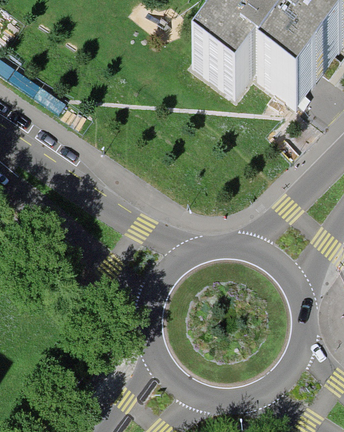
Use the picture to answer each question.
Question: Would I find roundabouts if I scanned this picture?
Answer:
Yes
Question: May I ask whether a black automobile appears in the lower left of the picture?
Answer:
No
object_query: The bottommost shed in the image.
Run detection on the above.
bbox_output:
[35,88,66,116]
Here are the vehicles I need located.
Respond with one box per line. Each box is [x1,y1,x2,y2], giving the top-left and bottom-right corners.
[298,298,312,322]
[57,144,80,164]
[310,342,328,364]
[0,100,10,114]
[35,128,58,148]
[8,110,32,130]
[0,170,10,186]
